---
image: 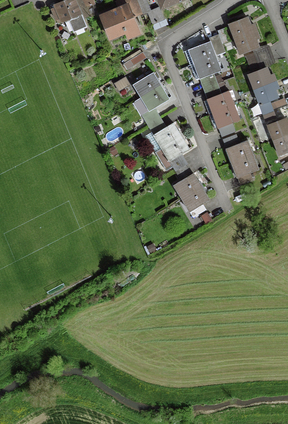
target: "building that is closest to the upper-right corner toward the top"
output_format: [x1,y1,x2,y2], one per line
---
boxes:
[228,16,260,65]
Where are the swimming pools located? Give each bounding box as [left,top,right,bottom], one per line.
[134,170,145,182]
[106,128,123,142]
